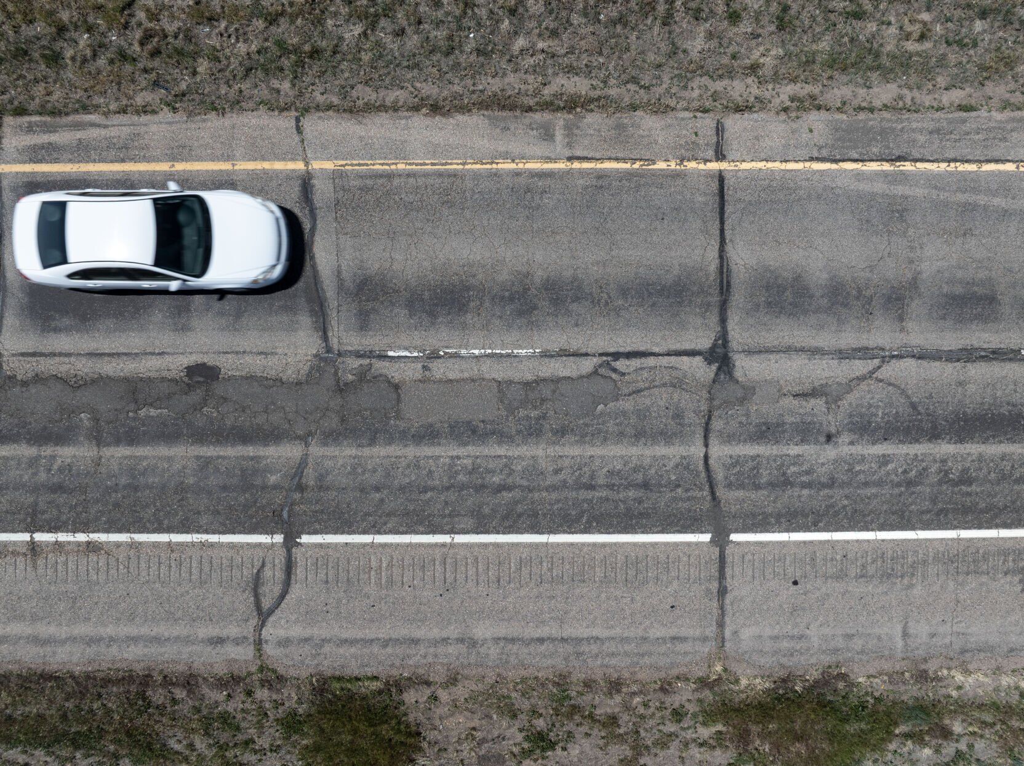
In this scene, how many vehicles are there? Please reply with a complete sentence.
In total, there is 1 vehicle in the scene.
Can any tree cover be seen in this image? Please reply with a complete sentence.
No, tree cover can't be seen anywhere here.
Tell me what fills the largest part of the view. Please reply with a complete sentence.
The bulk of the photo consists of paved ground.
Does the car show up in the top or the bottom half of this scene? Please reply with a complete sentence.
It is in the top half that the car appears.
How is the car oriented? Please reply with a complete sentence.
In this picture, the car lies horizontally.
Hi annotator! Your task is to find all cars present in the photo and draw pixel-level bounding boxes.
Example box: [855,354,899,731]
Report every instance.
[13,181,289,291]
